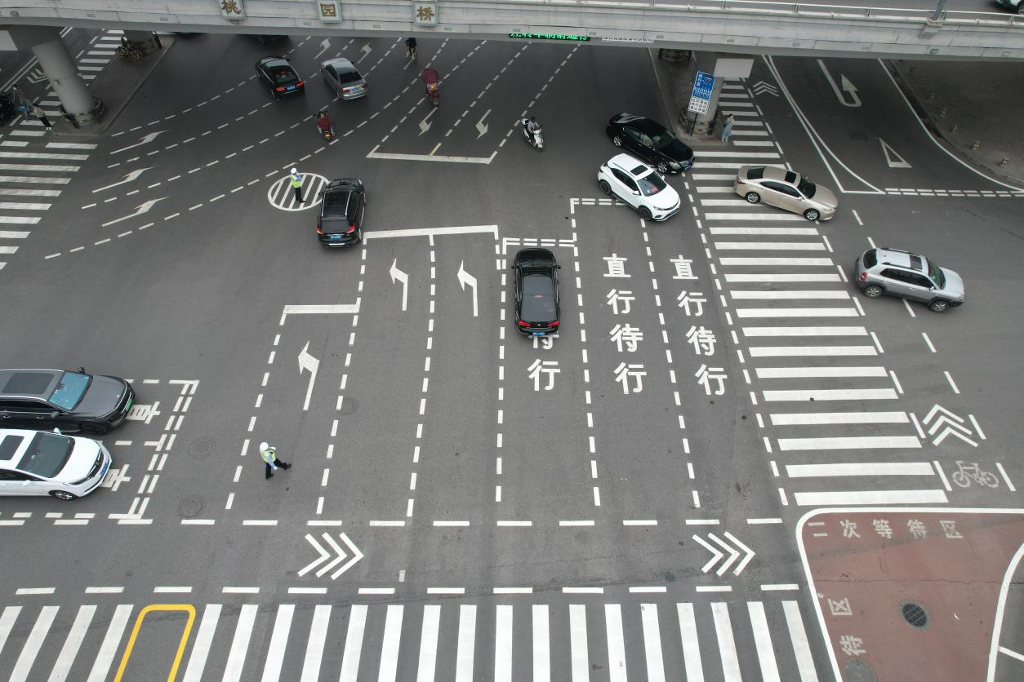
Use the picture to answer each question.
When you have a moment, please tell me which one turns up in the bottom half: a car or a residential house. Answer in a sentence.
Looking in the bottom half, you will find a car.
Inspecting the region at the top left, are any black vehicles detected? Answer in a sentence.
Yes, I can see a black vehicle at the top left.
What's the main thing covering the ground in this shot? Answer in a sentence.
What you mostly see from above here is paved ground.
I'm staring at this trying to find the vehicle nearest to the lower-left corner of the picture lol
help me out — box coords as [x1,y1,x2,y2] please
[0,426,112,498]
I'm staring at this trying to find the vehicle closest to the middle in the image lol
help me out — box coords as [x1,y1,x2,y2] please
[510,244,567,336]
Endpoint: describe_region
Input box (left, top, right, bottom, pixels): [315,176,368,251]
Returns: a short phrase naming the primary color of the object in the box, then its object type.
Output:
black car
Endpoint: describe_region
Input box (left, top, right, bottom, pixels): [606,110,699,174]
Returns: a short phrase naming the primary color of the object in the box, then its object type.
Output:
black car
